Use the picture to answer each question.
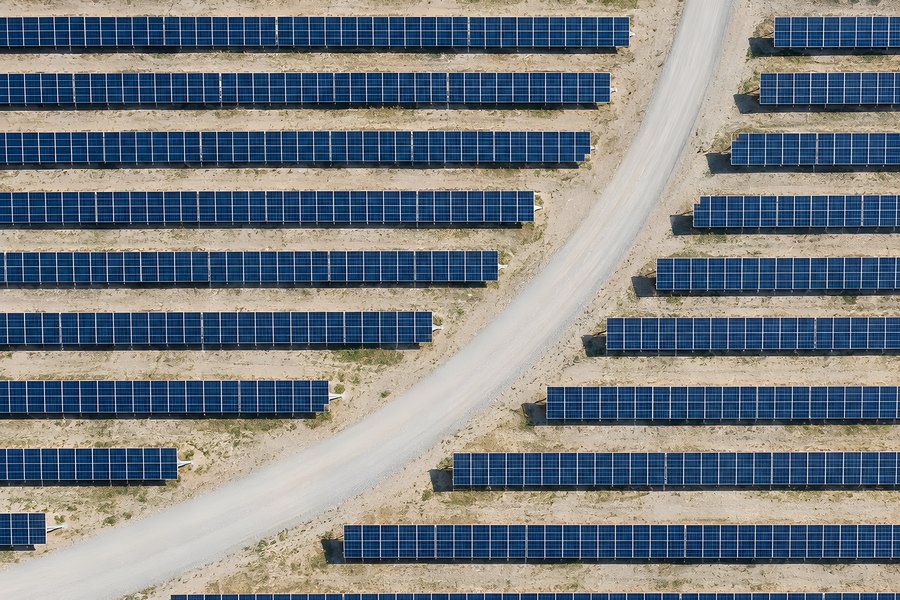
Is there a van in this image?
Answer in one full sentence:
No, the scene contains no van.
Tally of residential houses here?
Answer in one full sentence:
The photo contains no residential houses.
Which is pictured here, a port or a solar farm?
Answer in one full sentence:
What you see here is a solar farm.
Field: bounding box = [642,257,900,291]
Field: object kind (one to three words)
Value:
solar array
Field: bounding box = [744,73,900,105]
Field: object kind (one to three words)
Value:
solar array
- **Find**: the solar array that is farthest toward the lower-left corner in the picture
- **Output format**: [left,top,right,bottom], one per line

[0,512,70,546]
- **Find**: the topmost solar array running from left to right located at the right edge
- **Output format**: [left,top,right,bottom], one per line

[758,17,900,49]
